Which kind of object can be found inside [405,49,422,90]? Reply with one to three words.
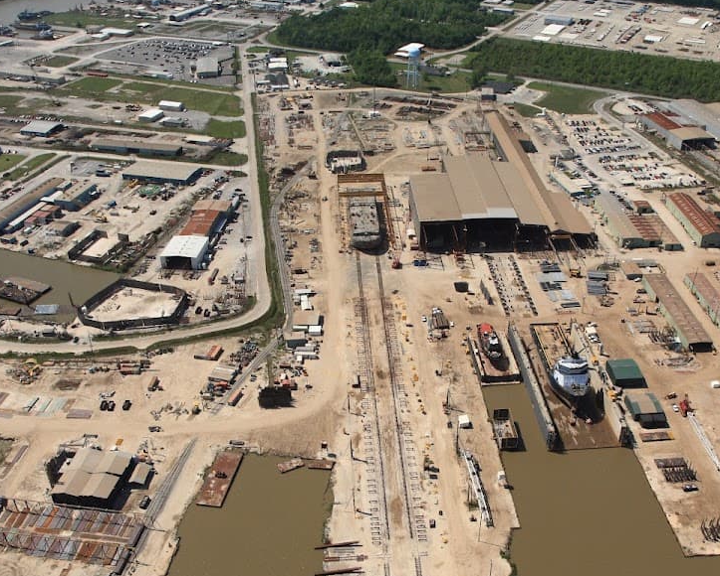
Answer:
water tower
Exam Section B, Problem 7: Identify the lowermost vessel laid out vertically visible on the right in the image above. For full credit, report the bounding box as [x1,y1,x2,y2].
[494,406,517,452]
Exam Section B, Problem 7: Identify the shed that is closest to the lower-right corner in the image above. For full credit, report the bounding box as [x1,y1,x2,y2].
[624,392,665,423]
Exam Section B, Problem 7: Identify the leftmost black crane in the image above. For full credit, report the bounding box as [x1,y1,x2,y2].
[257,324,292,405]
